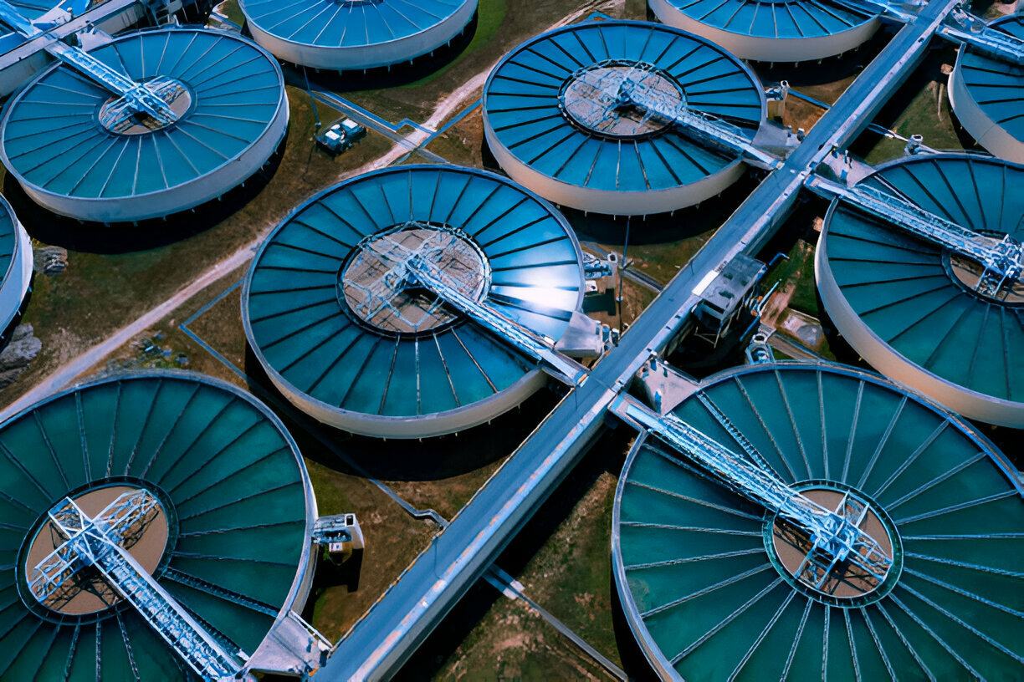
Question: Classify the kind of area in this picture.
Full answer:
It's an industrial area.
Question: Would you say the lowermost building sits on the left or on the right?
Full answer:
The lowermost building is on the left side of the image.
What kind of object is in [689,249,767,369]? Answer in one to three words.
building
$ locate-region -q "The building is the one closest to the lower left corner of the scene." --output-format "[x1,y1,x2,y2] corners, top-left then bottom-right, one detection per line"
[303,515,369,558]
